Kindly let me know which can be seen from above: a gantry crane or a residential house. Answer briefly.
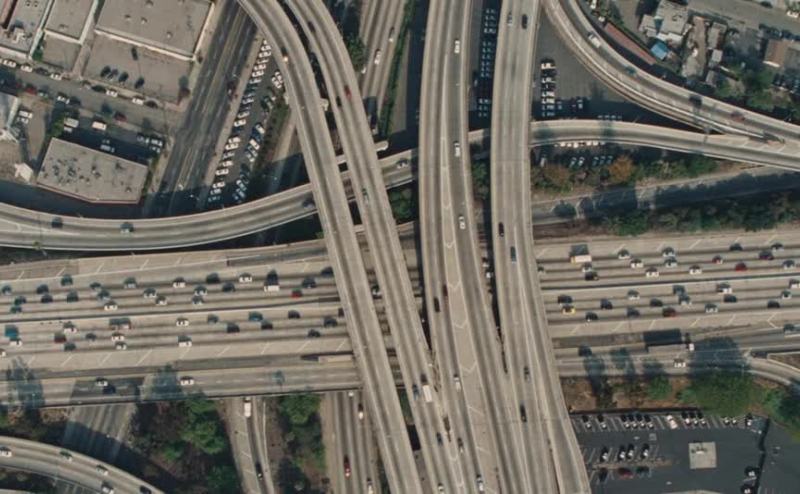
residential house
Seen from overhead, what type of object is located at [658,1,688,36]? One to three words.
building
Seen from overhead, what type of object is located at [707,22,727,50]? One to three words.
building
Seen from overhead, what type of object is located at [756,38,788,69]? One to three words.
house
